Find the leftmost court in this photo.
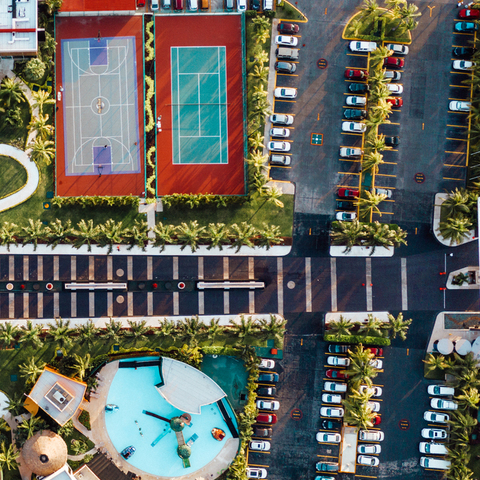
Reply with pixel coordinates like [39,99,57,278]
[56,15,145,196]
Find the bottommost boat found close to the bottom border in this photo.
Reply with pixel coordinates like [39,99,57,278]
[120,446,134,459]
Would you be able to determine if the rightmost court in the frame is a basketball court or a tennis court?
tennis court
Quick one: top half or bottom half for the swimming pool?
bottom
